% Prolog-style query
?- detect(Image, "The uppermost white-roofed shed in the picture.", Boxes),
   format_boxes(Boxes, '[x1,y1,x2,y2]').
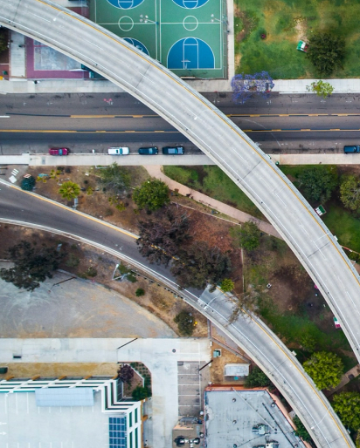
[224,363,253,376]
